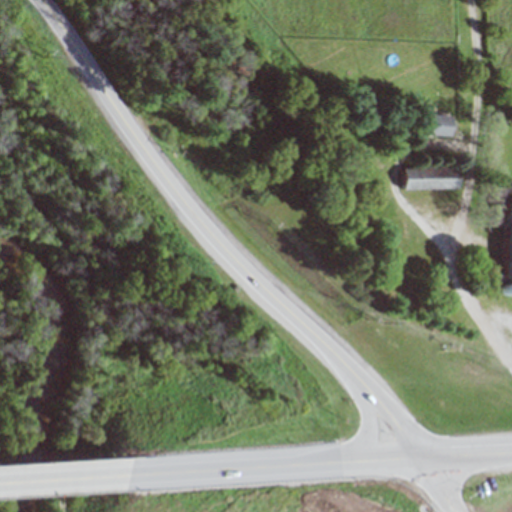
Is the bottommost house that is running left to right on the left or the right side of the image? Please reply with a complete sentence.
The bottommost house that is running left to right is on the right side of the image.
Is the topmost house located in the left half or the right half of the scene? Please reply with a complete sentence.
You can find the topmost house on the right side of the picture.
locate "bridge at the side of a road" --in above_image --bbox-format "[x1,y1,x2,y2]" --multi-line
[0,458,134,498]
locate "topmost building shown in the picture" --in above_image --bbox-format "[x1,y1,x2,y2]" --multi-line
[434,112,458,138]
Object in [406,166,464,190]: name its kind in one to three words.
house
